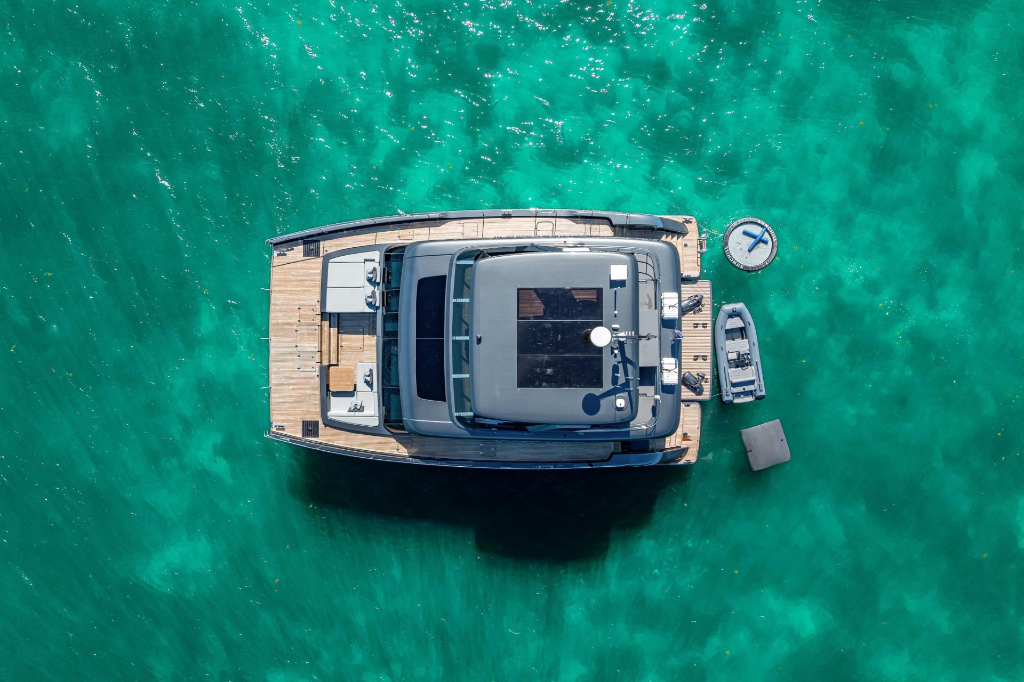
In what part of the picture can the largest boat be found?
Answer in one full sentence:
You can find the largest boat in the center area of the picture.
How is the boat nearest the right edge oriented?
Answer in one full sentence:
The boat nearest the right edge is oriented up and down.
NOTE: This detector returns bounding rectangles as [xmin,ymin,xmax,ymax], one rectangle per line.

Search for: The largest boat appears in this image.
[262,209,712,470]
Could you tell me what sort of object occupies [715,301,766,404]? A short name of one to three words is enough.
boat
